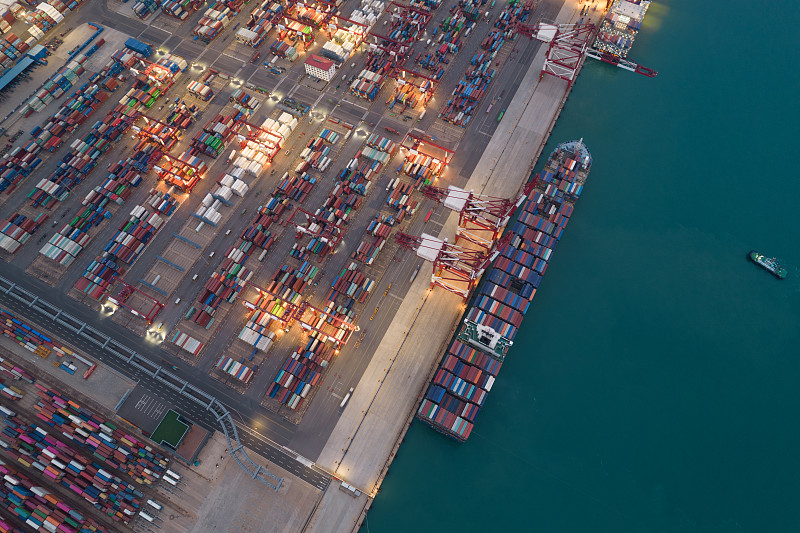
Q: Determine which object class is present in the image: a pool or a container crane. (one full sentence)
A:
Visible in the photo is a container crane.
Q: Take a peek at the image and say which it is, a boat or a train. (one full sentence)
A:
Visible in the photo is a boat.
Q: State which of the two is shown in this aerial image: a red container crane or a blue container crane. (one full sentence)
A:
Of the two, only a red container crane appears.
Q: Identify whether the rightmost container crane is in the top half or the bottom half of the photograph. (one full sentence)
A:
Seen from above, the rightmost container crane lies in the top half of the view.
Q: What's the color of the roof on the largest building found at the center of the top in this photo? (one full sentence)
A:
From above, the roof of the largest building found at the center of the top looks red.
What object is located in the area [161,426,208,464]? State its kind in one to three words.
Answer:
building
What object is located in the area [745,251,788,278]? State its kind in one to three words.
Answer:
boat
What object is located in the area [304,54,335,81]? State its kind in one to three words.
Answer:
building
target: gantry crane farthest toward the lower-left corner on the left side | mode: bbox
[102,279,170,329]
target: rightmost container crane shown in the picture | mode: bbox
[516,22,659,89]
